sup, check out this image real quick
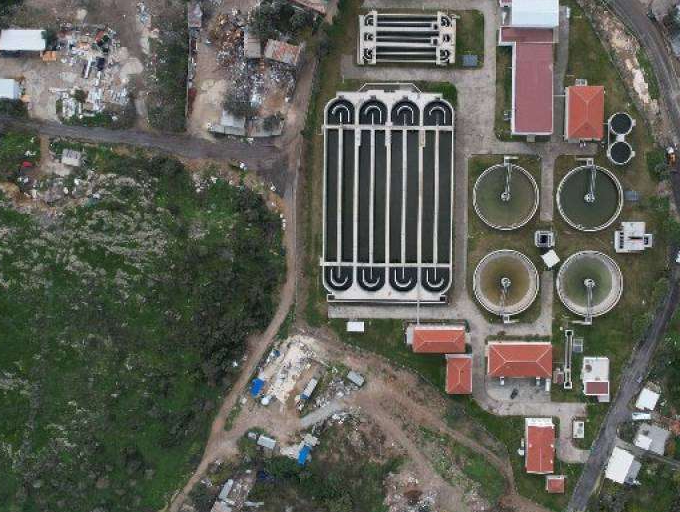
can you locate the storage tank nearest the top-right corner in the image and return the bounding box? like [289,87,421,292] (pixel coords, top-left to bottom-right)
[606,112,635,141]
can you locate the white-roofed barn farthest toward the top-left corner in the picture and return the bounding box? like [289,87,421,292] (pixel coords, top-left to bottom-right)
[0,29,50,52]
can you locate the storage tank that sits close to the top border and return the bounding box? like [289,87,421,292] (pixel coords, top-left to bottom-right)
[360,12,460,65]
